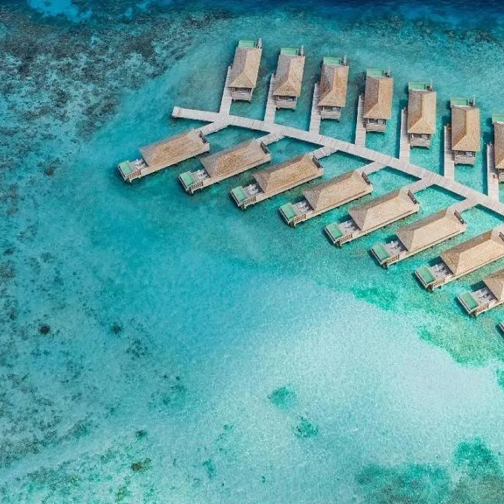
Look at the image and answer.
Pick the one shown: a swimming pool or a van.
swimming pool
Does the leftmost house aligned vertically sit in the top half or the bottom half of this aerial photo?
top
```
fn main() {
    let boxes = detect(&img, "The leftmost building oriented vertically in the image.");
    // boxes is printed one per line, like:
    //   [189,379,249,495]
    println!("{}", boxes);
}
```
[228,43,264,110]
